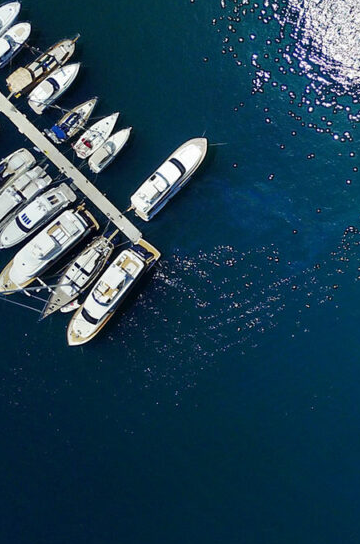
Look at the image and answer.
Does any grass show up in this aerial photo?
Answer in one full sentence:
No, the scene doesn't show any grass.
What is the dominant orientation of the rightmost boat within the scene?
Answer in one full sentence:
In this picture, the rightmost boat lies diagonally.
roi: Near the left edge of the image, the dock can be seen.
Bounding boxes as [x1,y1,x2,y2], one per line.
[0,92,144,240]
